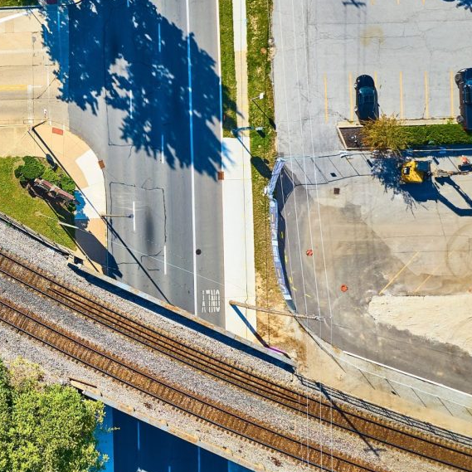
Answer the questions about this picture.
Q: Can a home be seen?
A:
No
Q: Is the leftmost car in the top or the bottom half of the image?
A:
top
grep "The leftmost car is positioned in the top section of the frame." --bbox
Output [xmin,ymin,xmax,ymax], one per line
[355,75,378,122]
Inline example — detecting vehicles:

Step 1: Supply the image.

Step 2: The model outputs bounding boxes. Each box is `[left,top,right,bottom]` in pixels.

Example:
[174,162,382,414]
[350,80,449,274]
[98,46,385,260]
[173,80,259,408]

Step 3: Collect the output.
[455,71,472,129]
[355,75,378,122]
[400,161,472,184]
